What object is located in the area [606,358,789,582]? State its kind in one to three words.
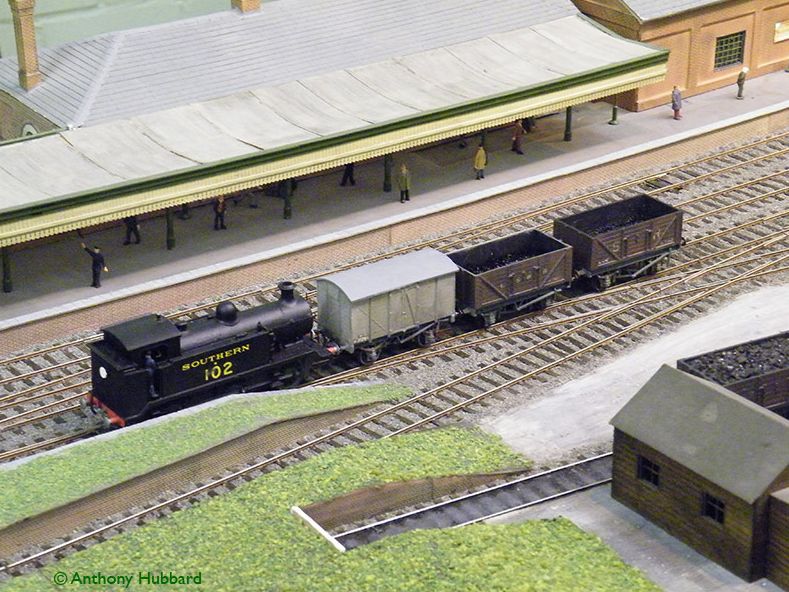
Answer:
shed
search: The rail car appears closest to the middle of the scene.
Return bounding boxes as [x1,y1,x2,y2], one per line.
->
[444,226,576,327]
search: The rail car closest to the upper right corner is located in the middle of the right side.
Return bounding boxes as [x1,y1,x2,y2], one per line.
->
[556,193,684,290]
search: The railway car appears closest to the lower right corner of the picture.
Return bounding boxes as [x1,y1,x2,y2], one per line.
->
[683,331,789,419]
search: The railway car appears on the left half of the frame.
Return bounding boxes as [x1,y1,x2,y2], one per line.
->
[82,281,340,426]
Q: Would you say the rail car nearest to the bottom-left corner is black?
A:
Yes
